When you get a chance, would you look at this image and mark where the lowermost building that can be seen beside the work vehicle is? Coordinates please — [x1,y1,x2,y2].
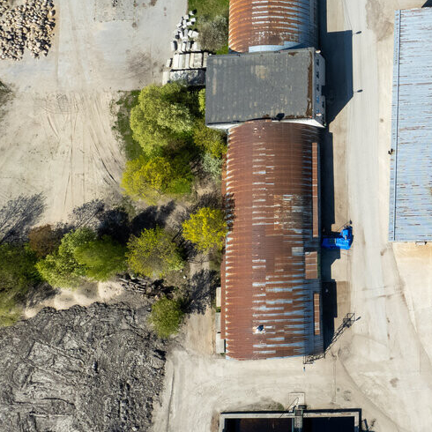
[225,125,326,358]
